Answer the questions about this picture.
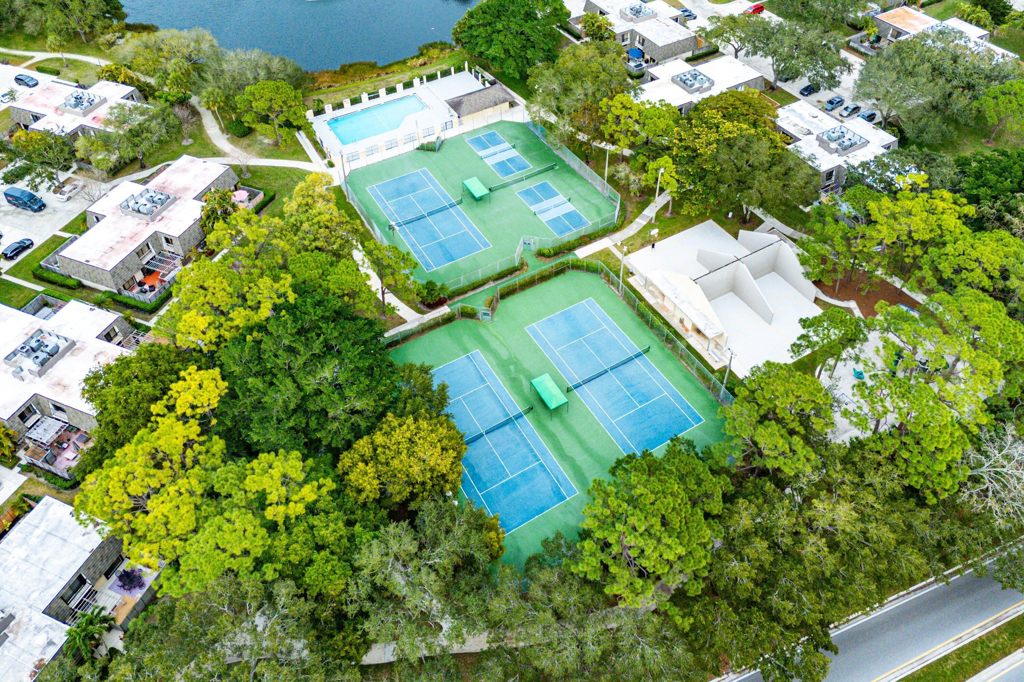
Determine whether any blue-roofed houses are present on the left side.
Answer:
No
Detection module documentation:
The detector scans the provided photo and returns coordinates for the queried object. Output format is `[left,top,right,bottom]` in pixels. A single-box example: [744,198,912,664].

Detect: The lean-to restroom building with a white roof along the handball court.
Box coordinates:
[644,269,725,352]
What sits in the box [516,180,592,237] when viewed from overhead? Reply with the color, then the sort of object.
blue sports court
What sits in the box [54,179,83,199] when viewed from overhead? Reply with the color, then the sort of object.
white car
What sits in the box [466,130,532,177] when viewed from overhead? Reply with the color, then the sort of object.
blue sports court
